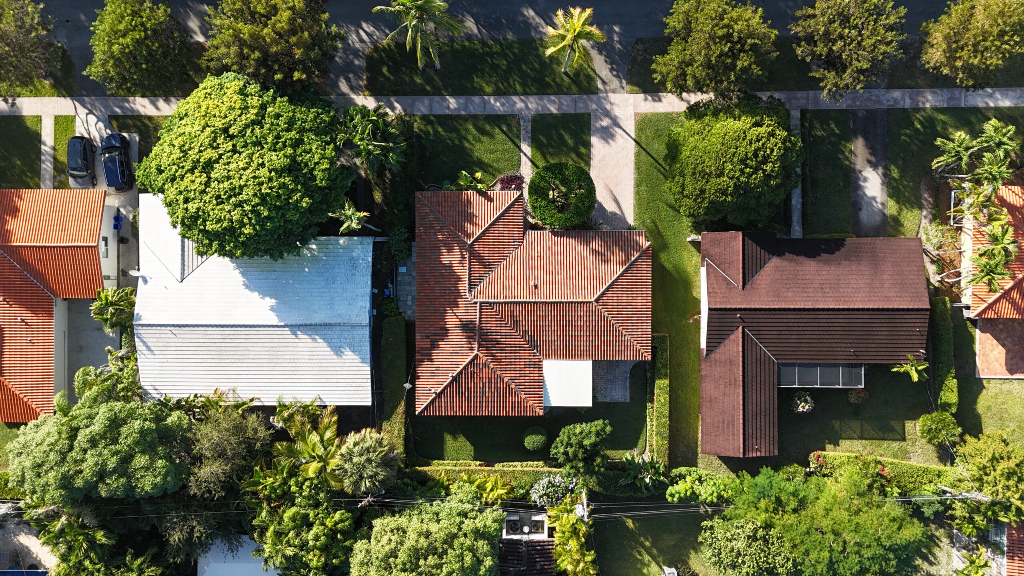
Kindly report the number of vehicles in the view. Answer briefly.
2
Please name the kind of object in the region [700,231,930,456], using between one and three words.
house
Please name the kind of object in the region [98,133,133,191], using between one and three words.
car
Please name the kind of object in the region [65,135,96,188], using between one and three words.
car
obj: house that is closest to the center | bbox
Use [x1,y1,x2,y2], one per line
[414,190,653,416]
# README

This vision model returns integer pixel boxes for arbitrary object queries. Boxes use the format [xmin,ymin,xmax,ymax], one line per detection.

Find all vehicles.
[98,133,133,191]
[65,135,96,188]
